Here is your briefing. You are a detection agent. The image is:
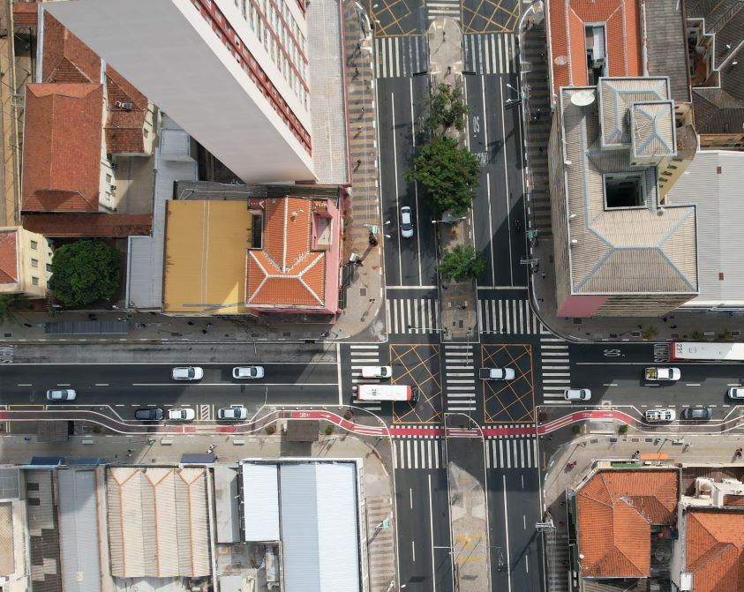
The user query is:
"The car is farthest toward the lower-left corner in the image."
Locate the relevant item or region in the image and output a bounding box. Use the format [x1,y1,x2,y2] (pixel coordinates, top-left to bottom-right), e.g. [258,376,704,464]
[47,387,78,401]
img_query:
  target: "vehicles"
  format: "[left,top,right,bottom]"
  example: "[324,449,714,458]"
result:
[726,387,744,399]
[135,407,165,420]
[399,206,413,238]
[358,382,420,403]
[644,367,679,381]
[645,407,675,422]
[172,366,205,380]
[233,366,265,379]
[563,387,591,401]
[218,407,249,420]
[683,407,712,420]
[167,407,196,420]
[667,342,744,361]
[47,387,78,401]
[479,366,515,380]
[362,365,393,379]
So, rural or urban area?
urban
